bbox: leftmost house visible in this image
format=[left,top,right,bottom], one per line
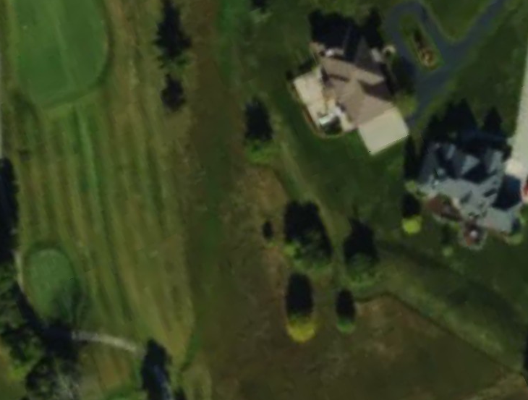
[312,31,396,128]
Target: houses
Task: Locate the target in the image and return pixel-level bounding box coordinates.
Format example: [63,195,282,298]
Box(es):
[312,31,396,128]
[417,139,526,226]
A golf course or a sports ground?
golf course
